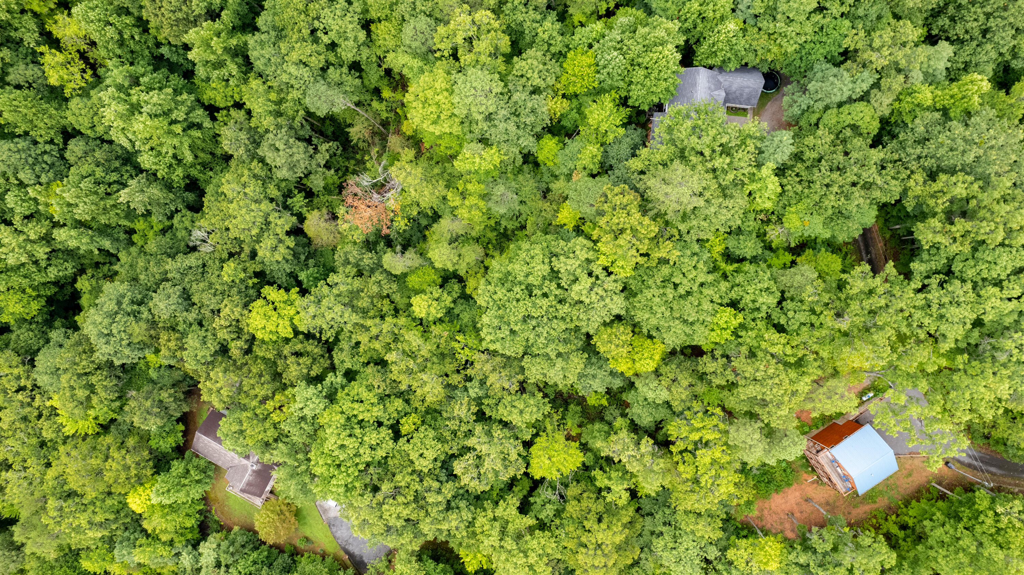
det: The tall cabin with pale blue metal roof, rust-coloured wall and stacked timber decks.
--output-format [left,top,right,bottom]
[800,421,899,497]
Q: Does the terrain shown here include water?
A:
No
